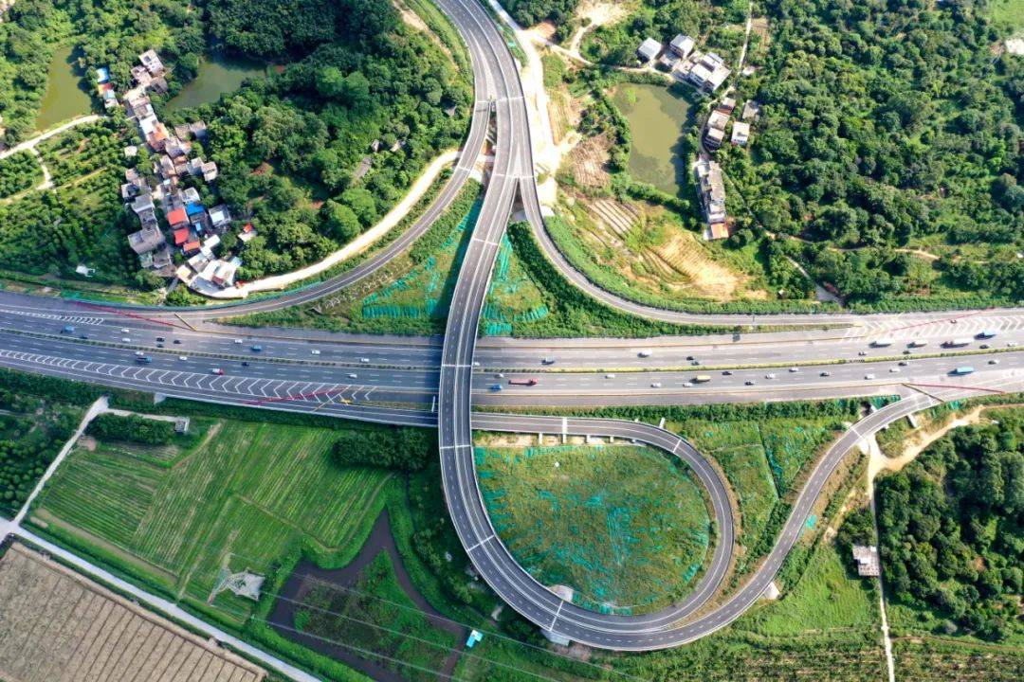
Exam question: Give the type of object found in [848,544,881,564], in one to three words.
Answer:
house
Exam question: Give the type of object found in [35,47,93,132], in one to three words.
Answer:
pond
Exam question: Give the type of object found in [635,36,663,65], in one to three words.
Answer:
house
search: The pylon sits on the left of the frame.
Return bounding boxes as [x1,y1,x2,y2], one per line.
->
[210,557,260,608]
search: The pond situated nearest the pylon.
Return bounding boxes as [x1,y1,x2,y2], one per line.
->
[265,504,467,682]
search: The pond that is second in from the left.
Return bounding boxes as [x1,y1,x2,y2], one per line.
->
[165,54,265,112]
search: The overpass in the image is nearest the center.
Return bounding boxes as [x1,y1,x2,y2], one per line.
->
[439,99,669,651]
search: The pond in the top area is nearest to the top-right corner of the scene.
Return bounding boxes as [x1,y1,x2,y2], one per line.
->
[607,81,693,199]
